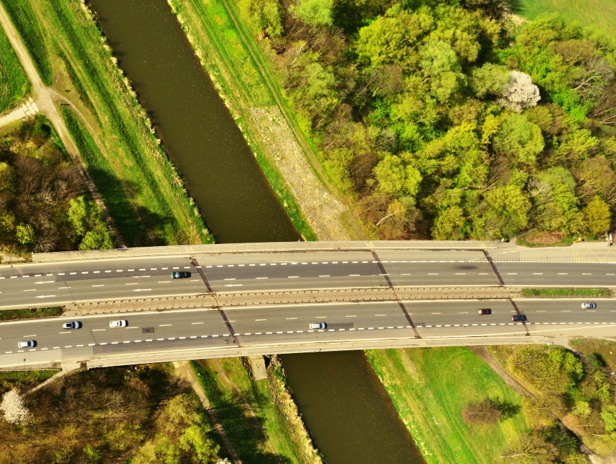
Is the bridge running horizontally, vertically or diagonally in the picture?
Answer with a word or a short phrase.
horizontally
